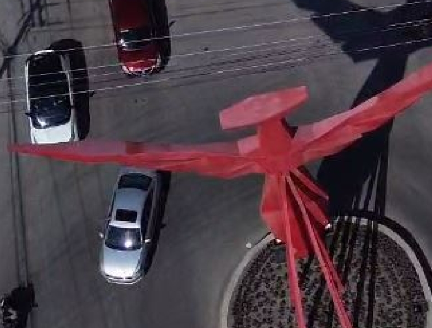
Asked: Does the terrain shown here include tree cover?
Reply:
No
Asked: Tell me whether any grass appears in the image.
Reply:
No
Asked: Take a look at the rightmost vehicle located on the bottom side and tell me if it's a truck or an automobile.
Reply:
automobile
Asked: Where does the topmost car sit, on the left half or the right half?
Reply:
left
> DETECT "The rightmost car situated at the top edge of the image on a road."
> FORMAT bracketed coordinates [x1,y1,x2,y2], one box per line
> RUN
[108,0,164,80]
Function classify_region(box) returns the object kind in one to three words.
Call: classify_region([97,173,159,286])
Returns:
car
